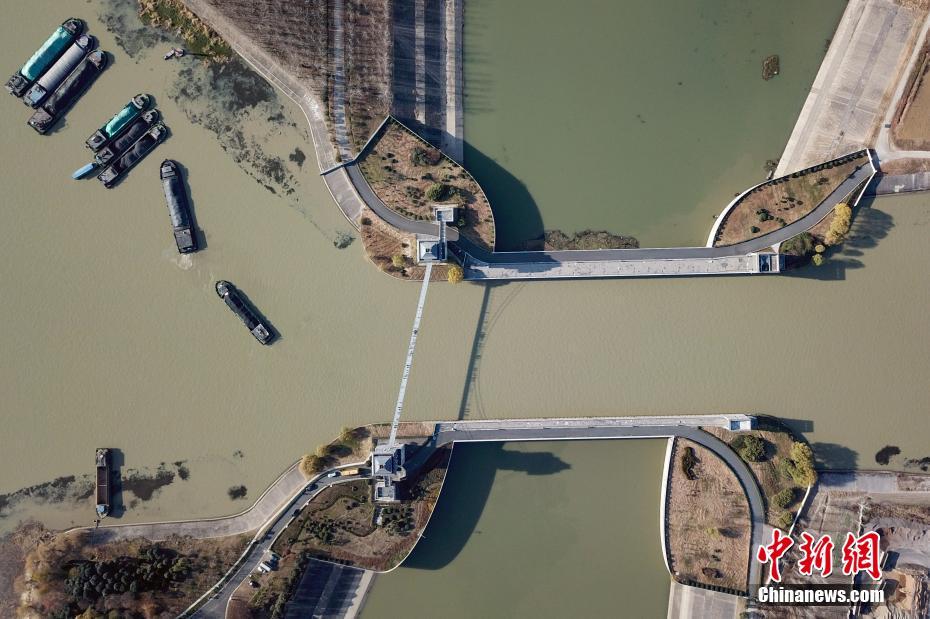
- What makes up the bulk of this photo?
water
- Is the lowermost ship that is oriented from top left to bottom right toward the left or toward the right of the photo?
left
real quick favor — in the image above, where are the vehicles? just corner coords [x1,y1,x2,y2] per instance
[307,485,316,492]
[882,123,894,129]
[257,567,265,575]
[327,472,338,477]
[269,554,280,562]
[259,562,272,572]
[340,467,360,475]
[249,580,258,587]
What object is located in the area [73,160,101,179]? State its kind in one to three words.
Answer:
boat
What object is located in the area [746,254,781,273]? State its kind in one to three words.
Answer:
building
